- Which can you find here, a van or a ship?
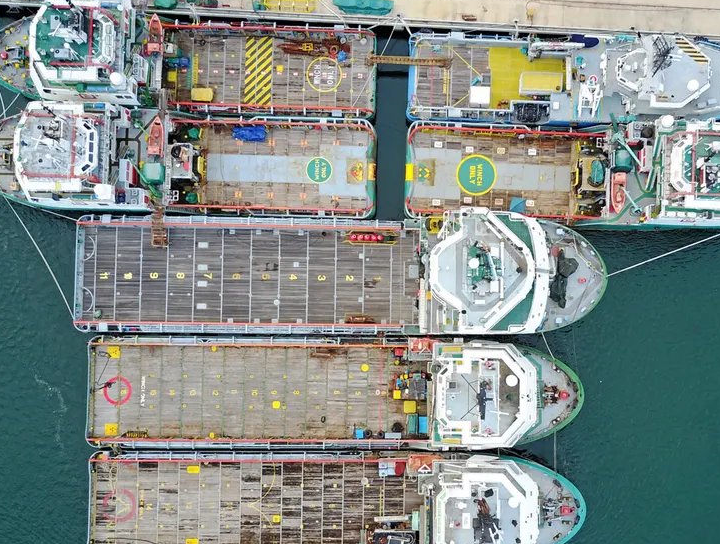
ship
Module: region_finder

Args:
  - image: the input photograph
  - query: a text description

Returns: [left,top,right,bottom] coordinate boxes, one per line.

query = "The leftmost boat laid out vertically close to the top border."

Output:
[147,14,166,58]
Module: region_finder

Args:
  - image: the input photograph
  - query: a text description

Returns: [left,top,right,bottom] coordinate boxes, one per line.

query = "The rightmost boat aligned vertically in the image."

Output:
[612,173,626,213]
